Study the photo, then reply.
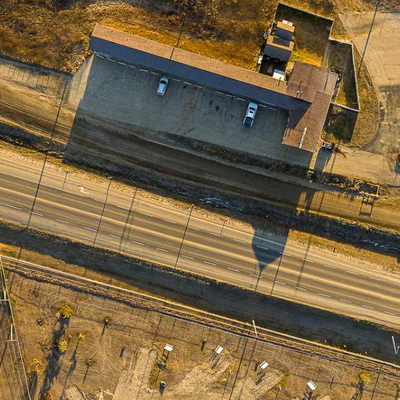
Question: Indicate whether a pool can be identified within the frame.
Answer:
No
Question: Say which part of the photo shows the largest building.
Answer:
top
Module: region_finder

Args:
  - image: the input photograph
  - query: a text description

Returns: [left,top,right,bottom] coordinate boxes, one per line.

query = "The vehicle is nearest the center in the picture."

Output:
[244,103,257,127]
